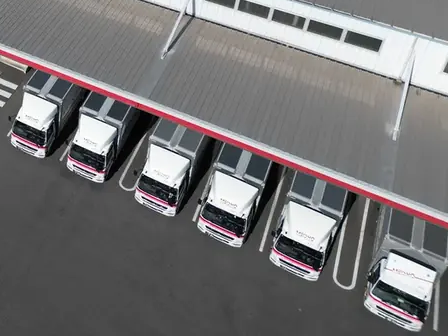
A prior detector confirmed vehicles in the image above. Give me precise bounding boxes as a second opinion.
[270,169,346,283]
[64,92,140,182]
[196,142,269,246]
[133,119,208,217]
[7,71,86,158]
[366,201,448,332]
